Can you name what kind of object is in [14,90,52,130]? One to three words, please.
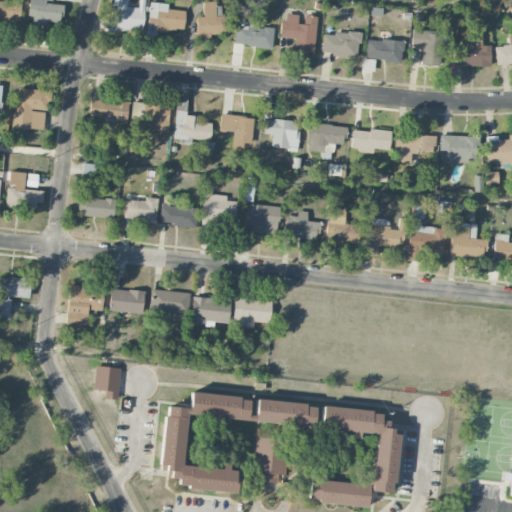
house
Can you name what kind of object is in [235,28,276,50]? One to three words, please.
house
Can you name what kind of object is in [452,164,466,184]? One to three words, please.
swimming pool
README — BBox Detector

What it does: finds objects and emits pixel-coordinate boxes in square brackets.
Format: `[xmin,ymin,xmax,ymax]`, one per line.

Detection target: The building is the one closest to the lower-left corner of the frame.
[95,366,128,400]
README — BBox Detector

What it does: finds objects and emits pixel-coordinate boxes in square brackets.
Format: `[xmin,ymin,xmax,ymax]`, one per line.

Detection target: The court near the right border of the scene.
[459,396,512,483]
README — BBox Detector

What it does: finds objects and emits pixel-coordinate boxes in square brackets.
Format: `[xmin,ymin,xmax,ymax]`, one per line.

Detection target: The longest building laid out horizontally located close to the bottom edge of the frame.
[161,392,402,494]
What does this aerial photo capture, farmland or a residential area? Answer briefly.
residential area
